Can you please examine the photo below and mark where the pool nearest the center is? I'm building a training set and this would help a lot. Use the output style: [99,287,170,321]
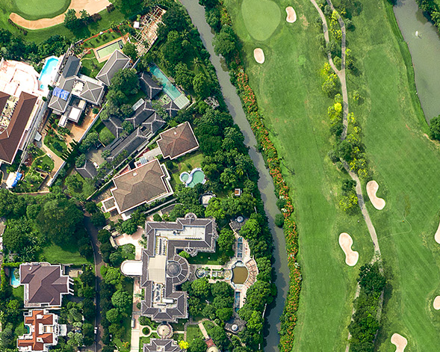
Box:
[181,170,205,186]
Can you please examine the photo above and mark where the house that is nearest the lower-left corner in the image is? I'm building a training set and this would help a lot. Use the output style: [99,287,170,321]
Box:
[15,311,68,345]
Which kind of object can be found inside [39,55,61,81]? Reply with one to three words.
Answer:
swimming pool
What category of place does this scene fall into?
golf course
